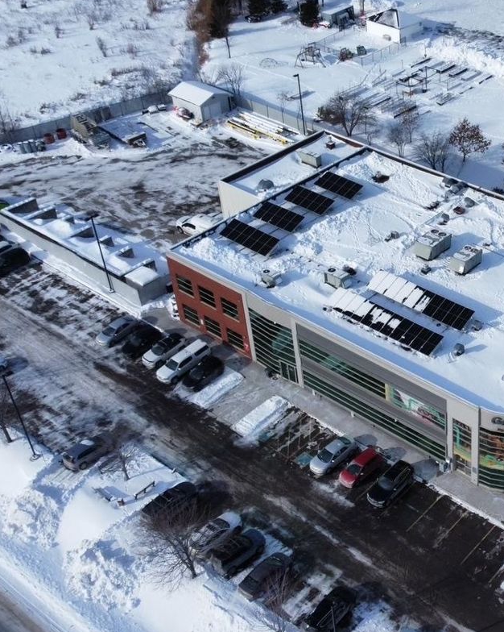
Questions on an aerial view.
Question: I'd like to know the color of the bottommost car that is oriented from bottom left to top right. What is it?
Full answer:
From above, the bottommost car that is oriented from bottom left to top right appears black.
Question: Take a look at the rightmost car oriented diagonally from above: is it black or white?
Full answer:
The rightmost car oriented diagonally looks black in the image.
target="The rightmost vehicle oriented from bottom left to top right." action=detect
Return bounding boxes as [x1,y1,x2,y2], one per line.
[364,461,415,508]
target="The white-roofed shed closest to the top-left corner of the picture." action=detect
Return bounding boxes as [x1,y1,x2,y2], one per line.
[157,78,233,119]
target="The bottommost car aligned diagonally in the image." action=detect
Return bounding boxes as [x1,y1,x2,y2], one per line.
[294,585,356,632]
